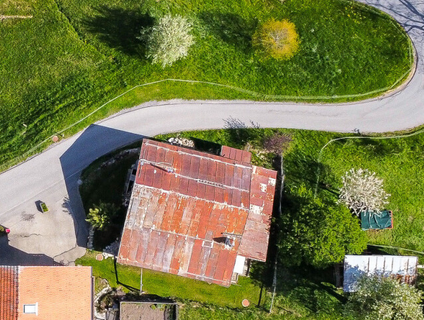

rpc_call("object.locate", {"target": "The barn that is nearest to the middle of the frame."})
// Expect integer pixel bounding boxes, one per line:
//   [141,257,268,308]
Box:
[117,139,276,288]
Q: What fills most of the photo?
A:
grass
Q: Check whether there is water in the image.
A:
No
